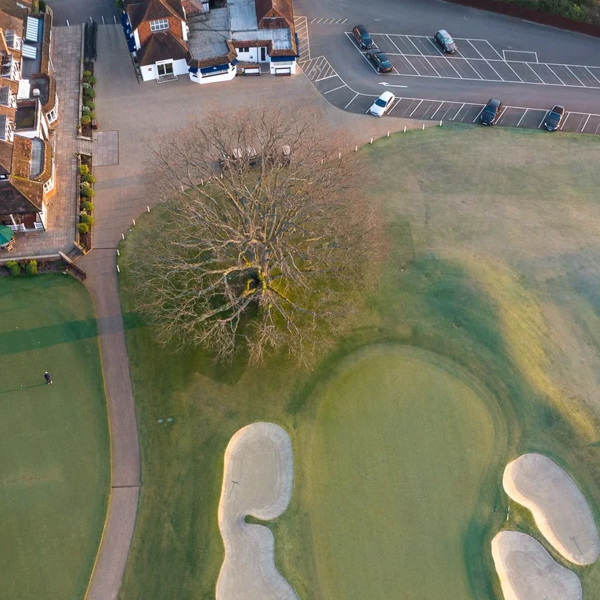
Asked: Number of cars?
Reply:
six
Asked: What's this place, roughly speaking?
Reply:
golf course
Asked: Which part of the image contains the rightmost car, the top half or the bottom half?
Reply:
top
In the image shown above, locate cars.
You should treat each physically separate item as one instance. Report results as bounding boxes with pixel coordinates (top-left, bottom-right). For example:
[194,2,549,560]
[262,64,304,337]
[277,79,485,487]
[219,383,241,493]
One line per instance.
[437,28,457,50]
[372,88,395,112]
[482,95,505,122]
[369,48,393,71]
[354,21,375,46]
[545,102,568,127]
